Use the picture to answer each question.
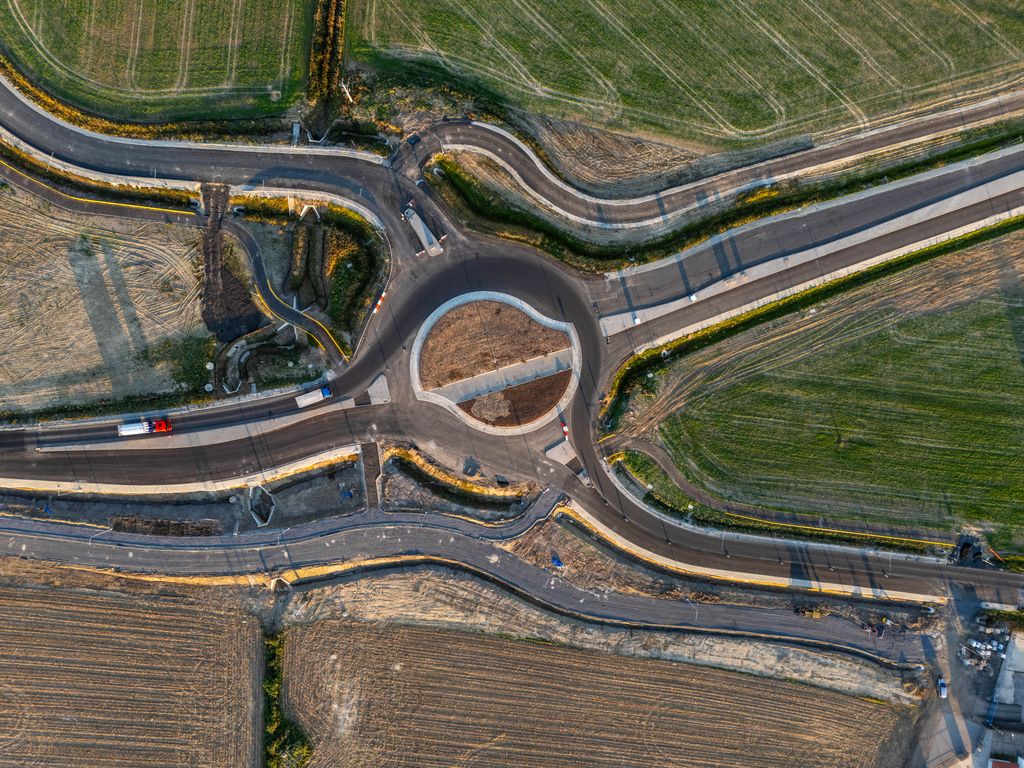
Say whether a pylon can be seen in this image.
No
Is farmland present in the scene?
Yes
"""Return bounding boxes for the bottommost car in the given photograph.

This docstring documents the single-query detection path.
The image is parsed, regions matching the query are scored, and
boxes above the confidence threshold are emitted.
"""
[934,677,947,698]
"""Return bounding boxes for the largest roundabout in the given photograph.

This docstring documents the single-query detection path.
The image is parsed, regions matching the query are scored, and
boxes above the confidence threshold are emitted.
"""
[340,195,635,500]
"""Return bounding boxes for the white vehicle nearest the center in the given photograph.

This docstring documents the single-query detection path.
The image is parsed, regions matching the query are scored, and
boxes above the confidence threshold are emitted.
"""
[294,385,336,408]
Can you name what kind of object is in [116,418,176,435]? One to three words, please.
vehicle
